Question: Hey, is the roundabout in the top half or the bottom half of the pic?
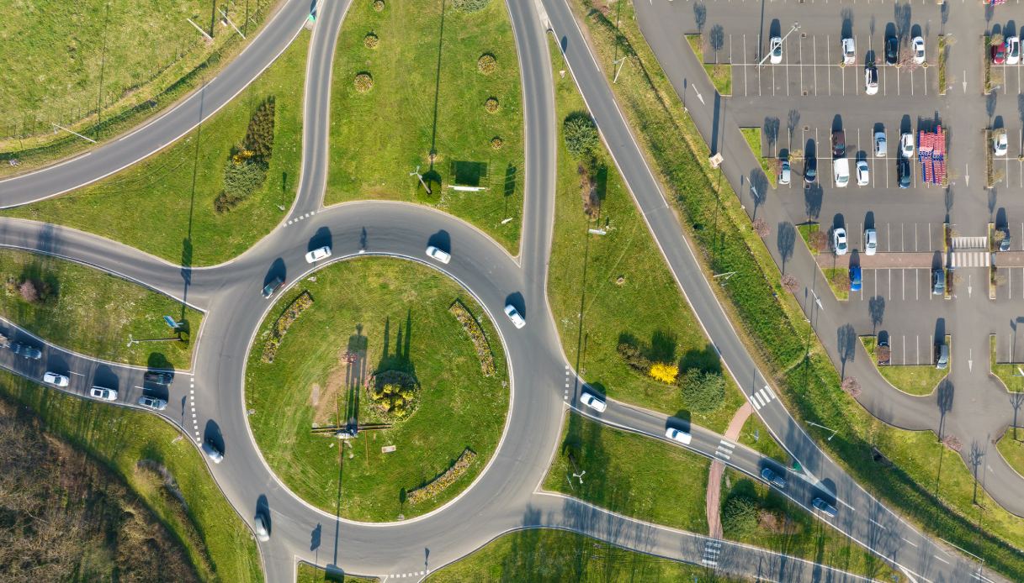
bottom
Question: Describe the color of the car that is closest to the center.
white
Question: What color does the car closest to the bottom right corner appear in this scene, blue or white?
blue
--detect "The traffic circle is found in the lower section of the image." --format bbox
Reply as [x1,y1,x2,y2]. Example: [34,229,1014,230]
[186,199,569,583]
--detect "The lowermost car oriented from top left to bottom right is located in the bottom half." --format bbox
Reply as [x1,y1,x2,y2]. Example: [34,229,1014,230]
[811,497,838,518]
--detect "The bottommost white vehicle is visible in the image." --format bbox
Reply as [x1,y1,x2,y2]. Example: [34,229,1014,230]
[255,515,270,540]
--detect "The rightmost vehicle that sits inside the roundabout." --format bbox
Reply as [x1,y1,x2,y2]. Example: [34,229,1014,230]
[505,305,527,329]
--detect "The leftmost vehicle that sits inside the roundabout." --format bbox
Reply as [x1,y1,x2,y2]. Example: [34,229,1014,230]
[201,441,224,464]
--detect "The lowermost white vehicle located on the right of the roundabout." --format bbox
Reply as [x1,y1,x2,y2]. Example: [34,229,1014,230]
[664,426,693,445]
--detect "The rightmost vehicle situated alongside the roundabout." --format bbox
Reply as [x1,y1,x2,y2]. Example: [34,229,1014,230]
[581,393,606,412]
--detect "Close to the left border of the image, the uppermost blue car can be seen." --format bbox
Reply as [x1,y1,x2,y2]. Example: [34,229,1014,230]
[12,342,40,358]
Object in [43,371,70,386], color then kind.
white car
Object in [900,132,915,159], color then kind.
white car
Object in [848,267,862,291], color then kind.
blue car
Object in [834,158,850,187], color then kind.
white vehicle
